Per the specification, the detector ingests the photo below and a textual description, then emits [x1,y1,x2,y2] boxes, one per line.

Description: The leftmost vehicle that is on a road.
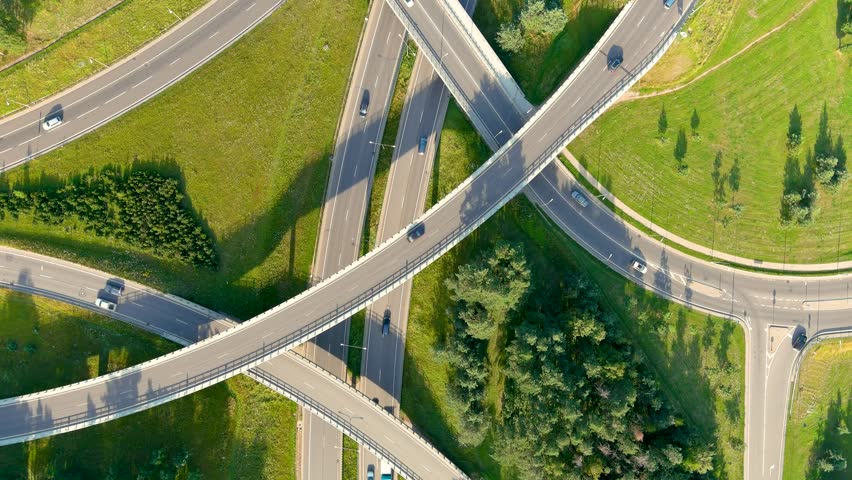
[42,117,63,131]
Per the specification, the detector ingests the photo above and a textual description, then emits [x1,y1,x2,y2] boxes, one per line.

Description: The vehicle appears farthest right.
[791,331,807,349]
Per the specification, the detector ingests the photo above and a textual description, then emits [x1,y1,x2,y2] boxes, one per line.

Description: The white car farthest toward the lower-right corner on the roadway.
[630,260,647,275]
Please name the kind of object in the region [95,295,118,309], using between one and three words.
vehicle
